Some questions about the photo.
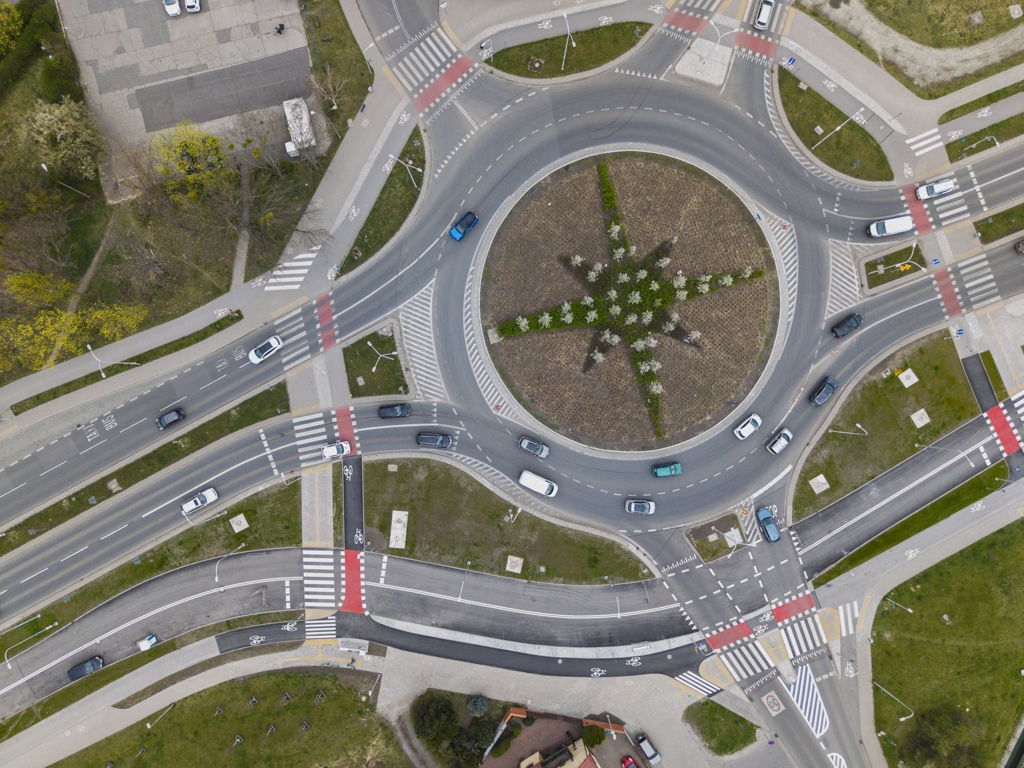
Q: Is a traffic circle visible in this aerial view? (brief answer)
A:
Yes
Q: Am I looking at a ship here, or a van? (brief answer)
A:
van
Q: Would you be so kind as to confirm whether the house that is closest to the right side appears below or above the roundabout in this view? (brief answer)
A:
below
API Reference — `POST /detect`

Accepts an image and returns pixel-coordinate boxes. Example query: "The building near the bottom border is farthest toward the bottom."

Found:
[520,728,601,768]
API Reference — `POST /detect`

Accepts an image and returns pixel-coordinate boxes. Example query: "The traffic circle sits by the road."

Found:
[401,73,860,531]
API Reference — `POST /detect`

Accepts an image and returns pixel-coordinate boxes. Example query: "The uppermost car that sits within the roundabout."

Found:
[451,212,478,242]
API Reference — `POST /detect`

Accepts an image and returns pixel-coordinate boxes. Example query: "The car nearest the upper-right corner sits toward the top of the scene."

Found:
[914,179,954,201]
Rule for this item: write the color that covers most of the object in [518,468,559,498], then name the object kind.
white van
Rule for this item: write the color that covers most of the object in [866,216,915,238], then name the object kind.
white vehicle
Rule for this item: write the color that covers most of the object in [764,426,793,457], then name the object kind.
white car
